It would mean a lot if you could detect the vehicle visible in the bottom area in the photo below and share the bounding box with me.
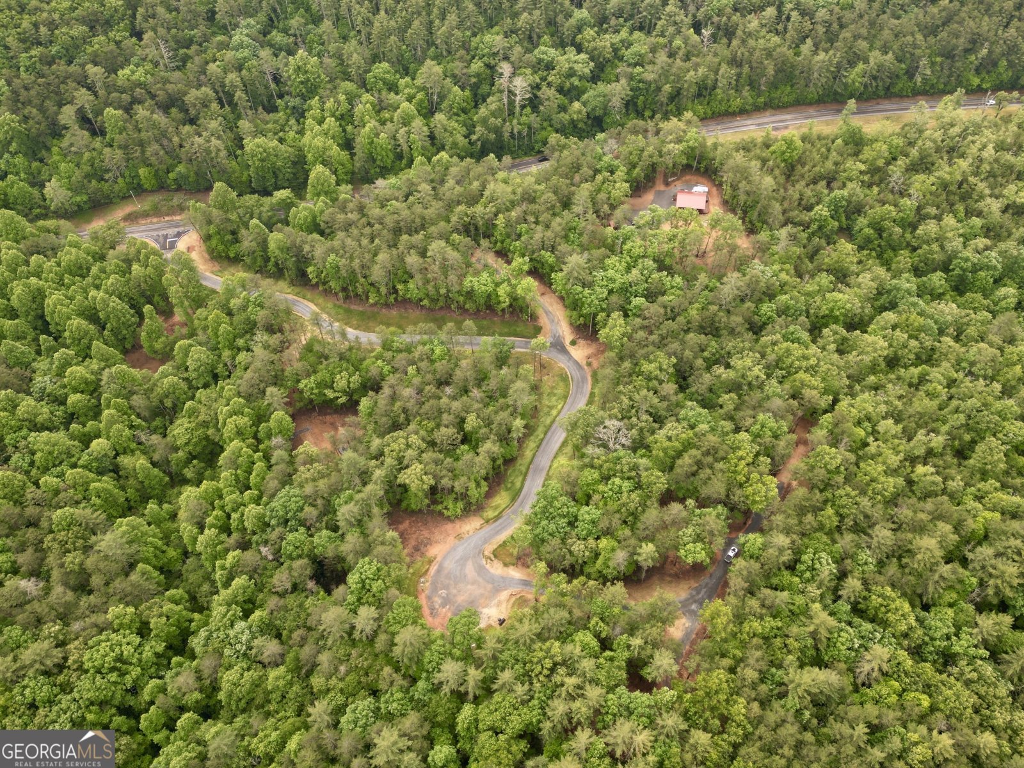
[726,545,738,560]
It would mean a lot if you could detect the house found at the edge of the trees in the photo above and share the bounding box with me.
[672,190,709,219]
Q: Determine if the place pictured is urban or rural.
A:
rural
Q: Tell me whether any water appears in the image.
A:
No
